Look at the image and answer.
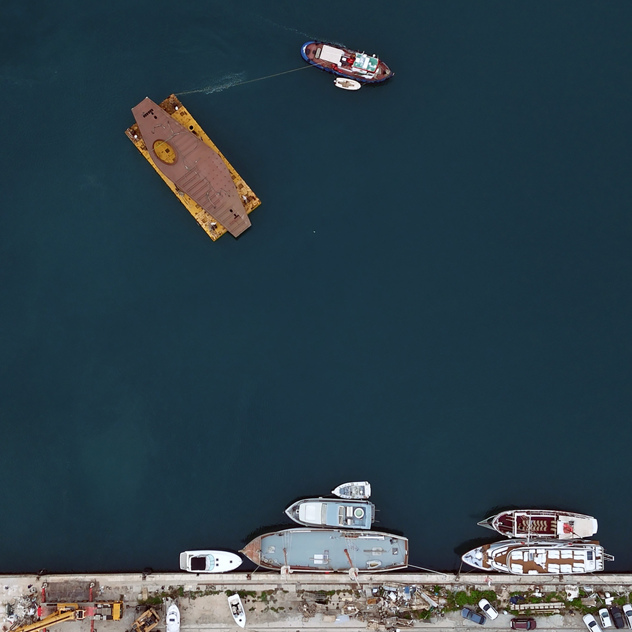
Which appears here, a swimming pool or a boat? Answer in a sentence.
It is a boat that can be seen here.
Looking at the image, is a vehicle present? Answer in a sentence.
Yes, a vehicle appears in the view.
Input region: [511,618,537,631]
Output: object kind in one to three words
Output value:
vehicle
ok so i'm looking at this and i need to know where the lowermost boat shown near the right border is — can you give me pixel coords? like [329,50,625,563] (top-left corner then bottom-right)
[462,537,614,575]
